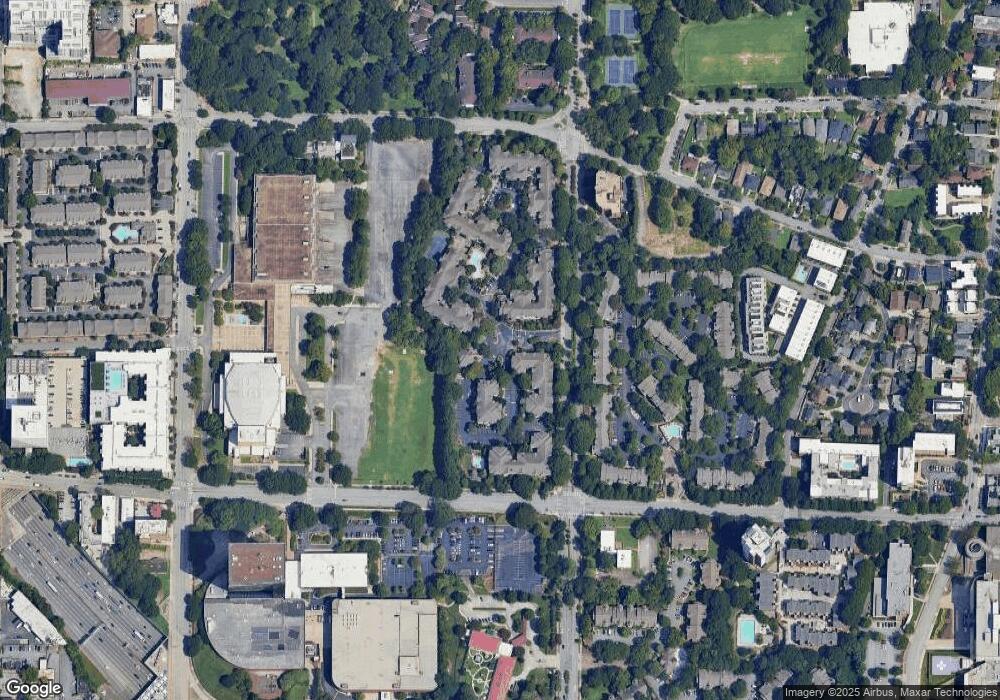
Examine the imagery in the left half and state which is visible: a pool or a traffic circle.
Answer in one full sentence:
The one visible in the left half is a pool.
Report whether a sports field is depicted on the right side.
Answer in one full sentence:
Yes, a sports field is visible on the right side.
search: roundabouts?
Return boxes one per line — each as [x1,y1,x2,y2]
[843,384,879,420]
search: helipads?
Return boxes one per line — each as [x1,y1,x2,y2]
[932,655,961,676]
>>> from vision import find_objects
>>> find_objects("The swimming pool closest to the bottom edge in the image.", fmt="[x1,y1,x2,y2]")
[737,613,772,646]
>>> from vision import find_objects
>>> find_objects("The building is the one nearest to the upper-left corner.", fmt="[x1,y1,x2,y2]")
[9,0,90,68]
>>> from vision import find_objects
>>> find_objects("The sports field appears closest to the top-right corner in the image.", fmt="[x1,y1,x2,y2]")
[679,14,811,96]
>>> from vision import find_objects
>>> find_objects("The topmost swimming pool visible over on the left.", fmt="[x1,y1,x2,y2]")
[112,222,140,243]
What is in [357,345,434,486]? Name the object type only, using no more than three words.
sports field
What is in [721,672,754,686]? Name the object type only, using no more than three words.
building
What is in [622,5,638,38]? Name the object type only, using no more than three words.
tennis court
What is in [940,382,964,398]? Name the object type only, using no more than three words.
house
